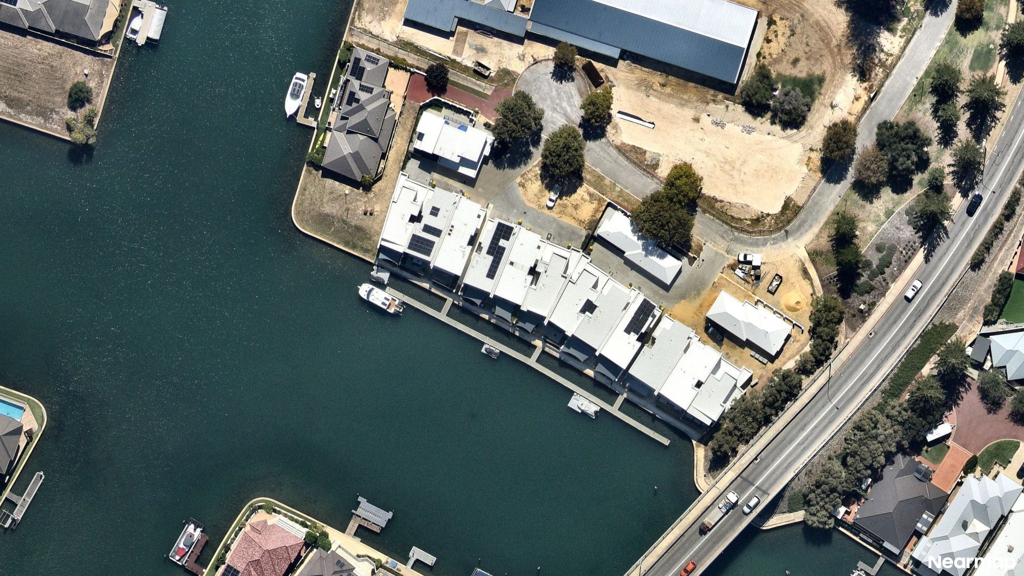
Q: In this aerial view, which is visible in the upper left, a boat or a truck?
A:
boat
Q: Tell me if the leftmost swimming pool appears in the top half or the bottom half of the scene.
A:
bottom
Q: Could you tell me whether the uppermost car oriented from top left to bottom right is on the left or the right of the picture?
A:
right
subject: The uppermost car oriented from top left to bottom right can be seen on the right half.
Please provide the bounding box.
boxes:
[704,323,727,345]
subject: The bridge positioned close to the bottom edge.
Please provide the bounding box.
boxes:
[625,462,781,576]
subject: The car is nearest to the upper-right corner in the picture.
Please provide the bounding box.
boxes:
[965,191,985,218]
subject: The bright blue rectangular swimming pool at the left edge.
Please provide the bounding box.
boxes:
[0,397,27,423]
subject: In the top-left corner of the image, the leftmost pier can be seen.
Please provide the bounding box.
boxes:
[132,0,156,45]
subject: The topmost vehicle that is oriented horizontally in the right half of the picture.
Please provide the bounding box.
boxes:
[735,253,762,266]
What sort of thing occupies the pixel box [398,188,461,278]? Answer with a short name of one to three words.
house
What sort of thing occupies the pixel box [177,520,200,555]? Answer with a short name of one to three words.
boat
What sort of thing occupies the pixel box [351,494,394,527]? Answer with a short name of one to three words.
pier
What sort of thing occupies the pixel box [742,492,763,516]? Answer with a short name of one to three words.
car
